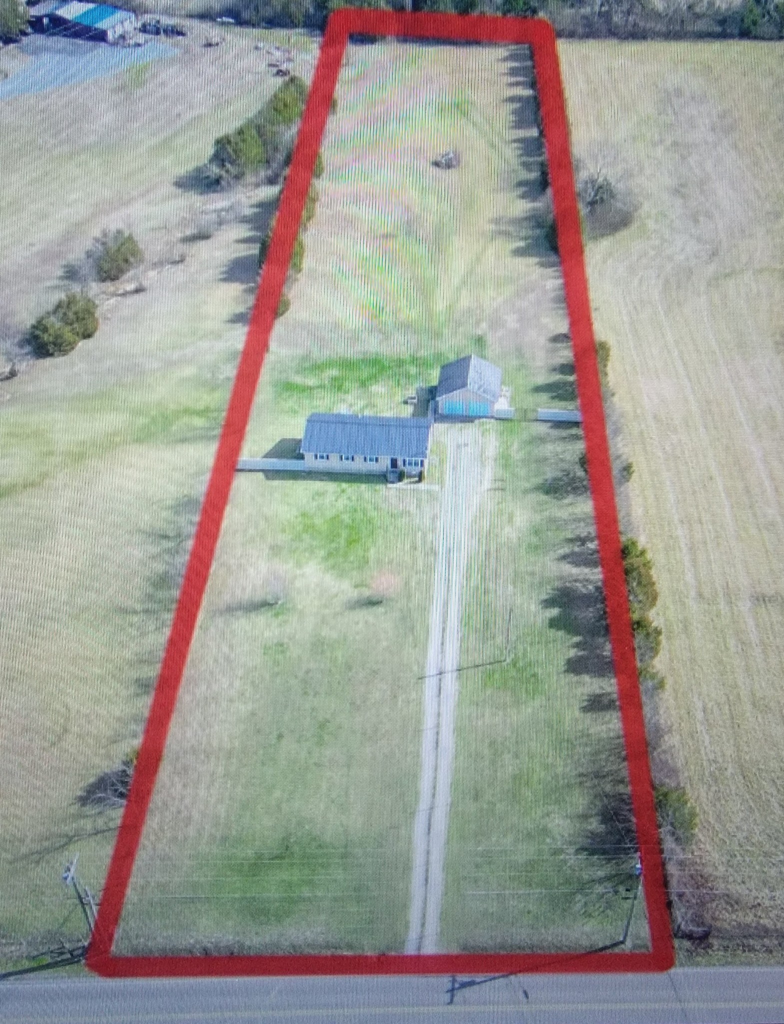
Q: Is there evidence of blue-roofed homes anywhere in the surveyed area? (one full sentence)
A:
Yes, there is a blue-roofed home in the image.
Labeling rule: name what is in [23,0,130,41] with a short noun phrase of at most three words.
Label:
barn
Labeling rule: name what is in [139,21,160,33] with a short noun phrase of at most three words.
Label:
vehicle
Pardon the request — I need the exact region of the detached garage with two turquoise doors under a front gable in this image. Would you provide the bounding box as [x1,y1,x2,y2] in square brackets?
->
[434,353,499,420]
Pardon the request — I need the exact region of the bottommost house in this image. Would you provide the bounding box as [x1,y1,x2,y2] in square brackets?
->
[300,413,429,475]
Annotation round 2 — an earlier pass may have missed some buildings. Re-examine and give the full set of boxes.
[434,353,499,420]
[23,0,130,41]
[300,413,429,475]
